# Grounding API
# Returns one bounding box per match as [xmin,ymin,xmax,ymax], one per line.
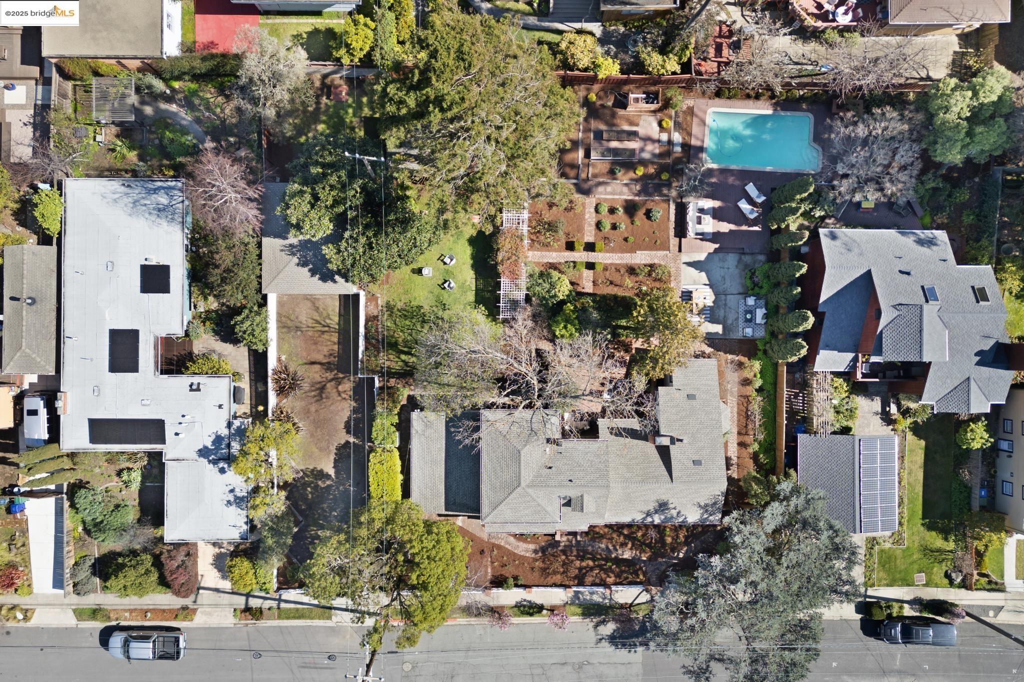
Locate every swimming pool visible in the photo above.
[703,107,822,174]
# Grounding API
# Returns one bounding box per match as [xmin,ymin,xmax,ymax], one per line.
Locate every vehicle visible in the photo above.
[14,386,57,453]
[105,627,184,664]
[880,616,964,653]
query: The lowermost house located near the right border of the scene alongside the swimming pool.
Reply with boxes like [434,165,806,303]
[800,228,1024,413]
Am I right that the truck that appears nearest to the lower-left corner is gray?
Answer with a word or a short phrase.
Yes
